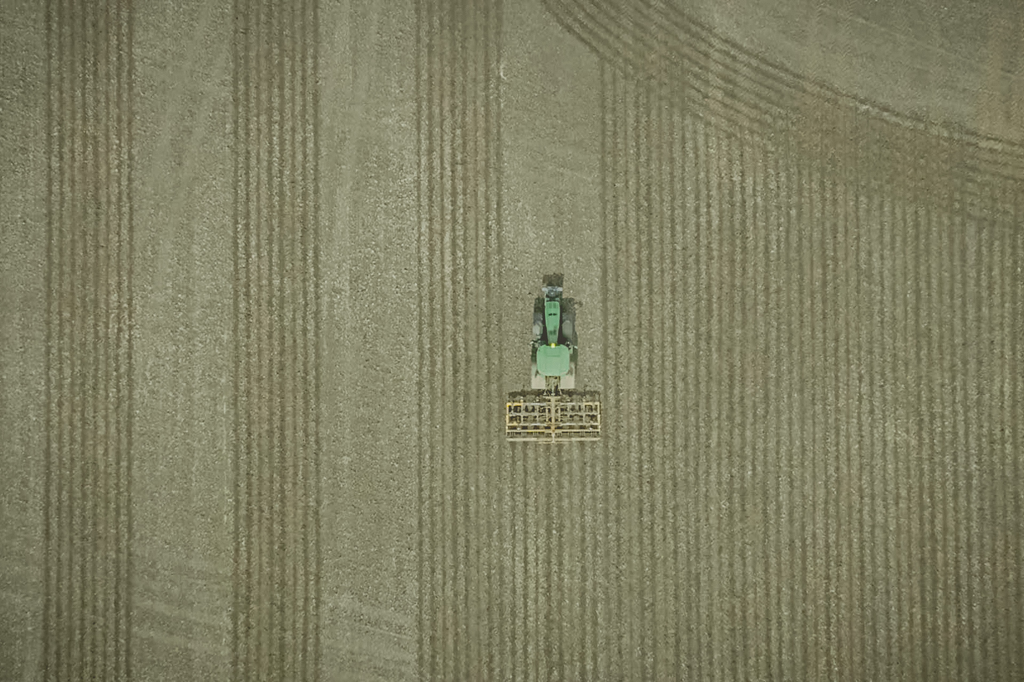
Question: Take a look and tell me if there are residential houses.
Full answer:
No, I can't see a single residential house in this photo.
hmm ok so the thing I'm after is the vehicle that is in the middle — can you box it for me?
[530,285,578,402]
